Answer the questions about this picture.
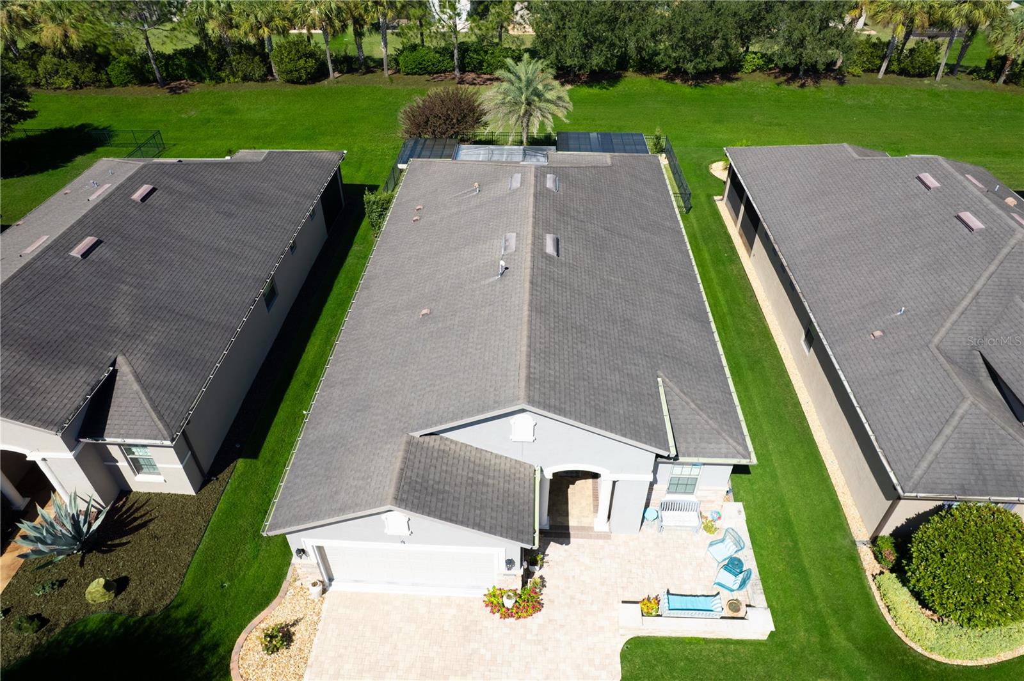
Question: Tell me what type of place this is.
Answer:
residential area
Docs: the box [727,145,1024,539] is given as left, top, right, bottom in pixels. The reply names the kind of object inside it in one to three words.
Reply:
house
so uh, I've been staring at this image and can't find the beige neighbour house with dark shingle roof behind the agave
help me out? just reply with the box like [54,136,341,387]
[0,149,338,516]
